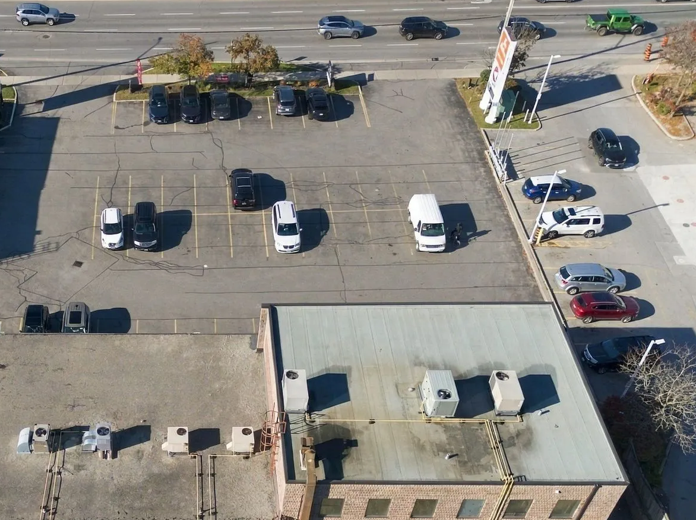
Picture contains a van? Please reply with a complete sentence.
Yes, a van appears in the view.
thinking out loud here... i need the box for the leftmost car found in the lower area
[14,303,49,332]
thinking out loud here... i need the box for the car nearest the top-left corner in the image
[15,2,61,25]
